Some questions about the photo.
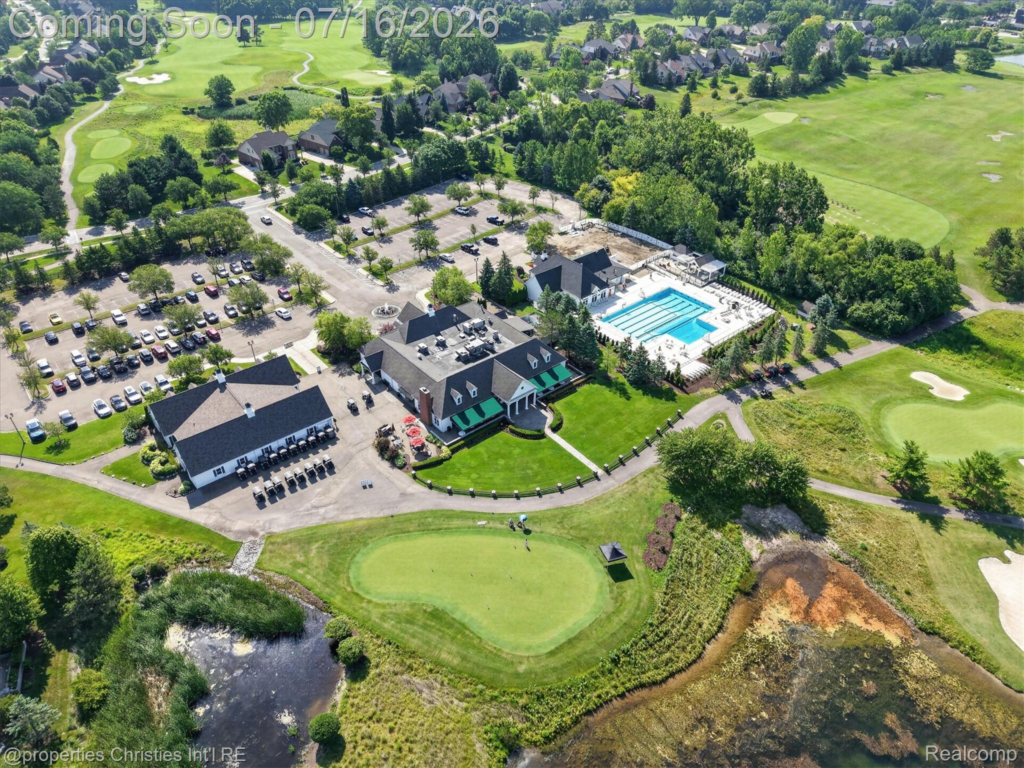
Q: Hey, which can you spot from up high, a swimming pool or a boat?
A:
swimming pool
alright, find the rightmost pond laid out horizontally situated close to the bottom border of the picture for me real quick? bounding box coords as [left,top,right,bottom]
[494,542,1024,768]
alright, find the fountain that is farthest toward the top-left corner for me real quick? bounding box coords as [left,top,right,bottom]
[371,303,401,320]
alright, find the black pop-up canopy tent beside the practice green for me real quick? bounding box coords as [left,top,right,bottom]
[599,540,632,571]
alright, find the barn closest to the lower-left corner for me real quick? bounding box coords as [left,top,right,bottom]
[146,353,335,488]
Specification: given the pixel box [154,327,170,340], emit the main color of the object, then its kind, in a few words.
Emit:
white vehicle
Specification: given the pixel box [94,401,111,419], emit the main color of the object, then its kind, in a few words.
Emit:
white car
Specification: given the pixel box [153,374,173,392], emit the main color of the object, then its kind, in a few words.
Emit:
white vehicle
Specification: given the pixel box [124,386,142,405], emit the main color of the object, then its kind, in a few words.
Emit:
white car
